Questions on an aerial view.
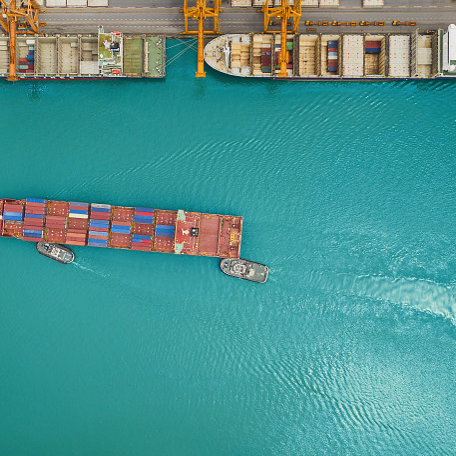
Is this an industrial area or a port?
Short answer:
port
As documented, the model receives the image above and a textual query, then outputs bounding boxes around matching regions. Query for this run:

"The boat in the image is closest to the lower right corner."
[219,258,269,283]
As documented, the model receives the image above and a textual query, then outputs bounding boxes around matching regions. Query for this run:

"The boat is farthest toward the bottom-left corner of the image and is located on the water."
[35,242,75,264]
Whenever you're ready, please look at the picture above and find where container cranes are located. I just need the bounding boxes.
[175,0,223,80]
[253,0,305,80]
[0,0,45,80]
